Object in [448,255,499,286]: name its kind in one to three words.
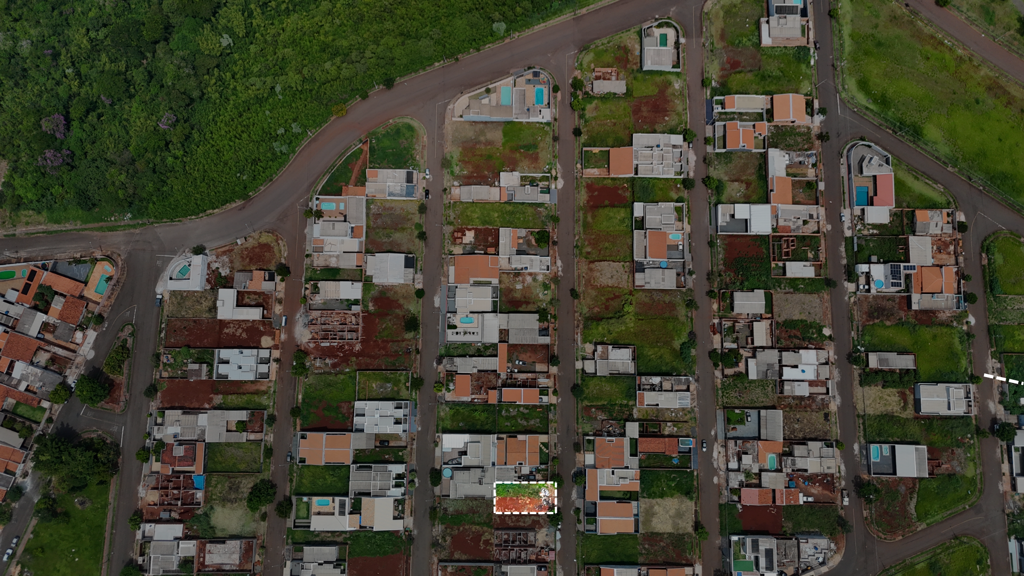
house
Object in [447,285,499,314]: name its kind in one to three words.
house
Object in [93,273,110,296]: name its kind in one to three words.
swimming pool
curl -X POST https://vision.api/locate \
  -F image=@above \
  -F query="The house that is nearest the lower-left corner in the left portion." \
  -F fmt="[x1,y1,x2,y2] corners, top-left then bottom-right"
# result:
[0,428,34,502]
